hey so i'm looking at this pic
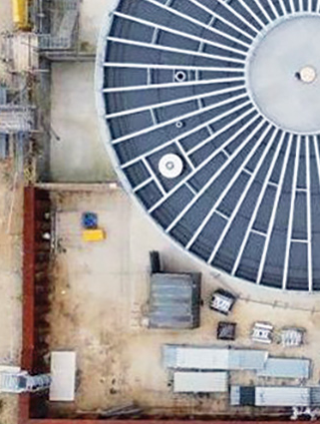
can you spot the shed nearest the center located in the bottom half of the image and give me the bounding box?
[146,269,201,331]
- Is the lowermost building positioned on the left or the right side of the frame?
left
